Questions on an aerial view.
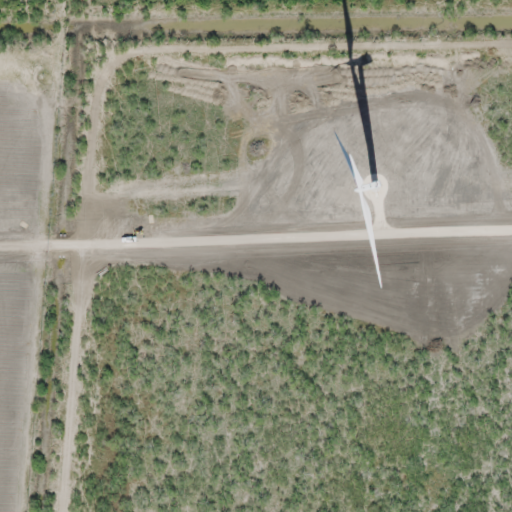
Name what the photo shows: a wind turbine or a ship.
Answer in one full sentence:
This aerial view contains a wind turbine.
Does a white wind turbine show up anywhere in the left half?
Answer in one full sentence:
No, no white wind turbine appears in the left half.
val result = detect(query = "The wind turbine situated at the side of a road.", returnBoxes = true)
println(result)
[335,134,382,286]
